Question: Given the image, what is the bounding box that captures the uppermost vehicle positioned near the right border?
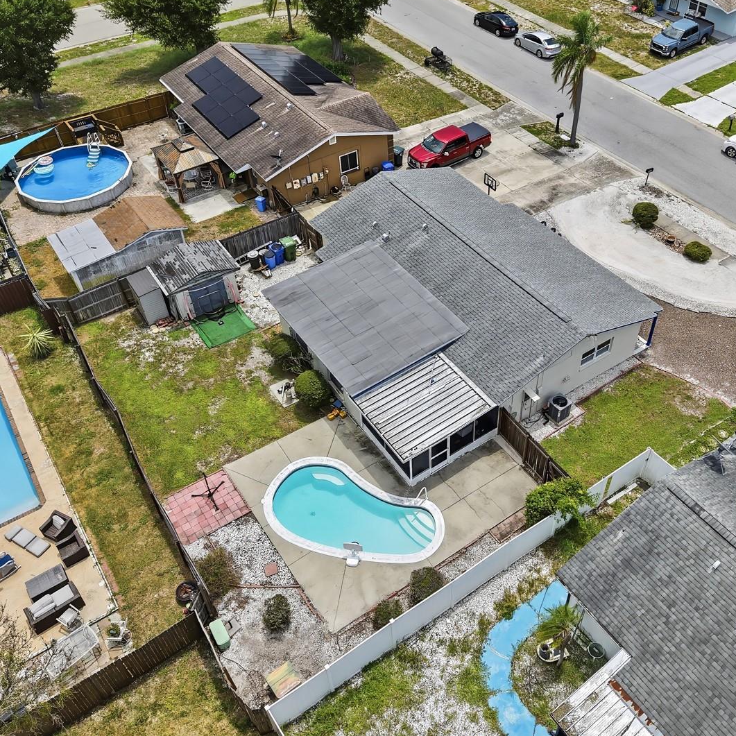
[646,17,714,57]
